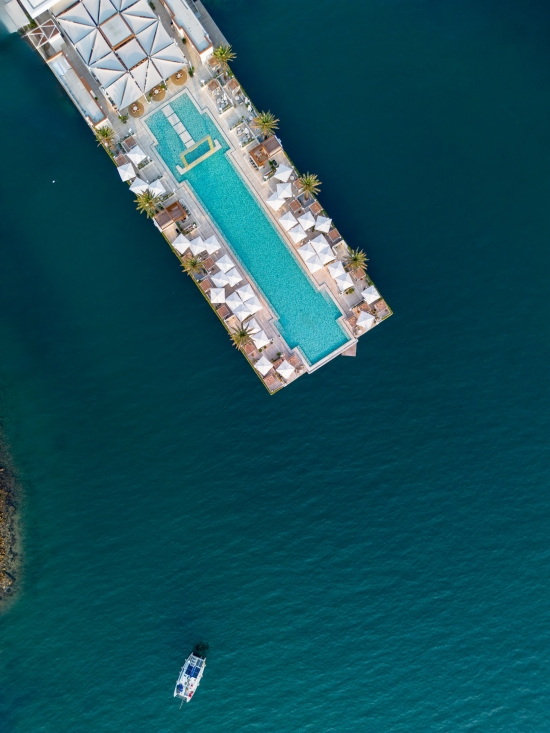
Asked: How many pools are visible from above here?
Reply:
1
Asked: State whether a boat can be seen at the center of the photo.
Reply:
No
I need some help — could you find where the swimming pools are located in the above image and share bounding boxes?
[139,87,357,374]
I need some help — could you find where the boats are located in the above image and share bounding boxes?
[170,652,208,710]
